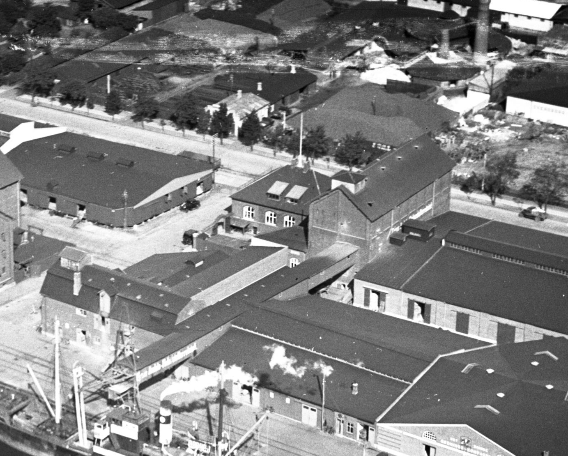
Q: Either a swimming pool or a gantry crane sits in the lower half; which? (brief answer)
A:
gantry crane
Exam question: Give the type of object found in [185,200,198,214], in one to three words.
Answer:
vehicle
